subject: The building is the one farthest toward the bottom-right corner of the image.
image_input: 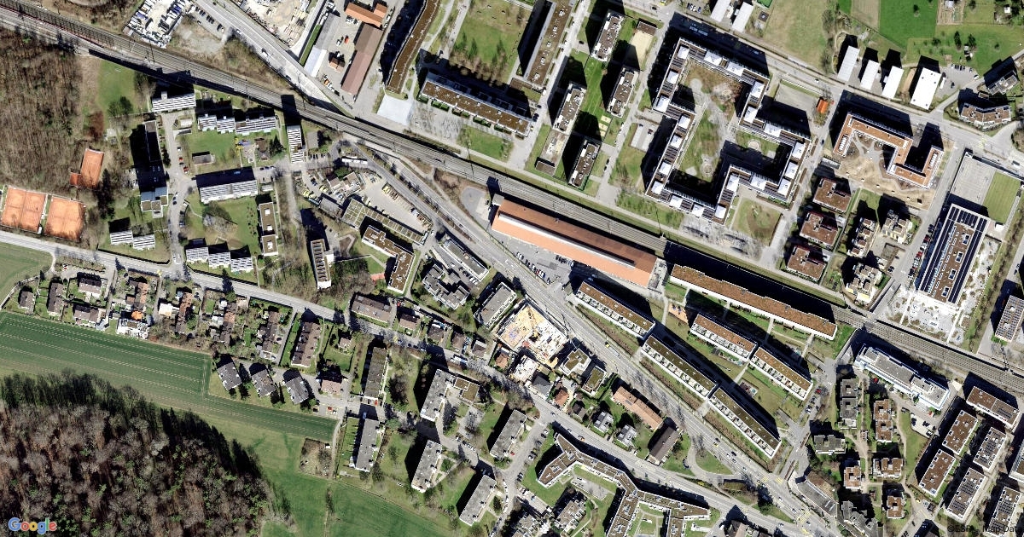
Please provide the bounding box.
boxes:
[988,487,1022,537]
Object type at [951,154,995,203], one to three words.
sports court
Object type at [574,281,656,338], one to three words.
building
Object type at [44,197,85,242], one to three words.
tennis court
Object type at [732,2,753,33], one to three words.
shed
